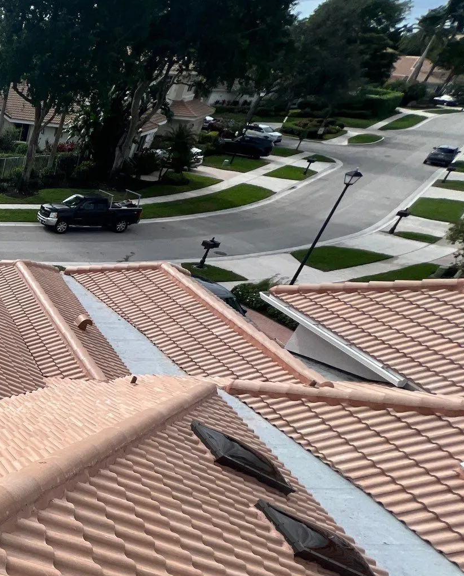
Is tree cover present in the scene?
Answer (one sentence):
Yes, the picture does contain tree cover.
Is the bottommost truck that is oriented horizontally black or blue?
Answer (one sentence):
The color of the bottommost truck that is oriented horizontally is black.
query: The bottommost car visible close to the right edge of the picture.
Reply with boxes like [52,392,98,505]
[423,139,460,163]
